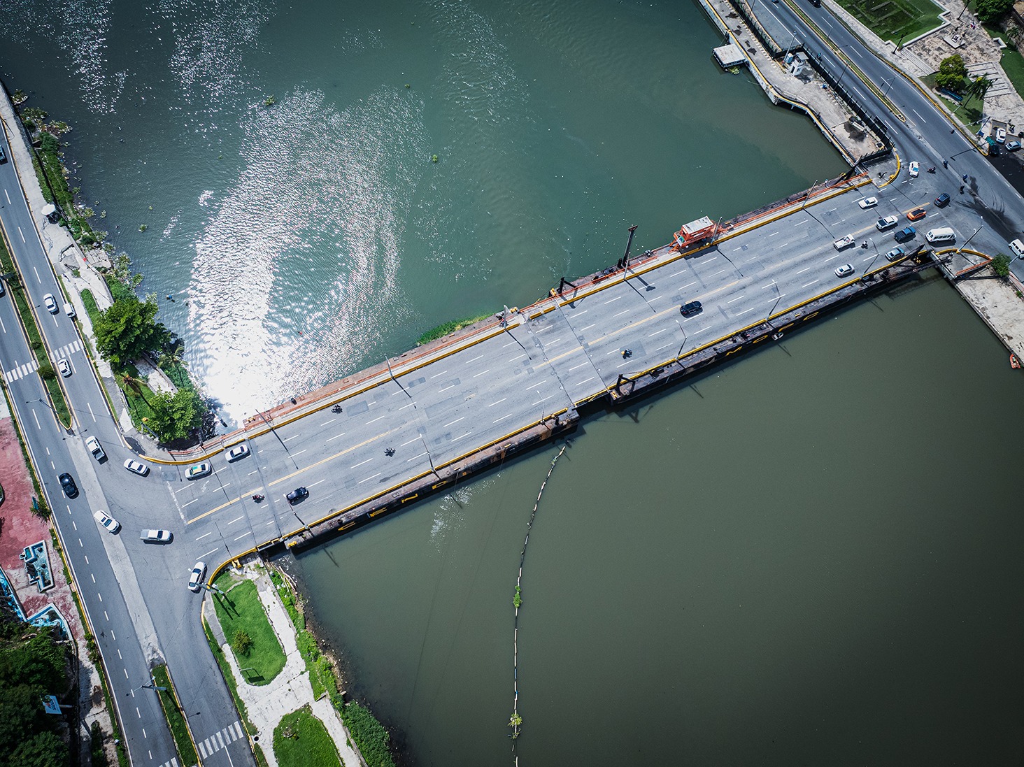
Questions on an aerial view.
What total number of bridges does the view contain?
1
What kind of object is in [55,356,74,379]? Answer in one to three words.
car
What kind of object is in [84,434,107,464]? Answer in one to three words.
truck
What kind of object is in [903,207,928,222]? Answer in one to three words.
car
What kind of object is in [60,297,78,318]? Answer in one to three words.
vehicle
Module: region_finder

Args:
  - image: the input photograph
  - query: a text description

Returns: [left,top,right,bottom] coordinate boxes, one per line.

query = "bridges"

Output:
[162,170,933,552]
